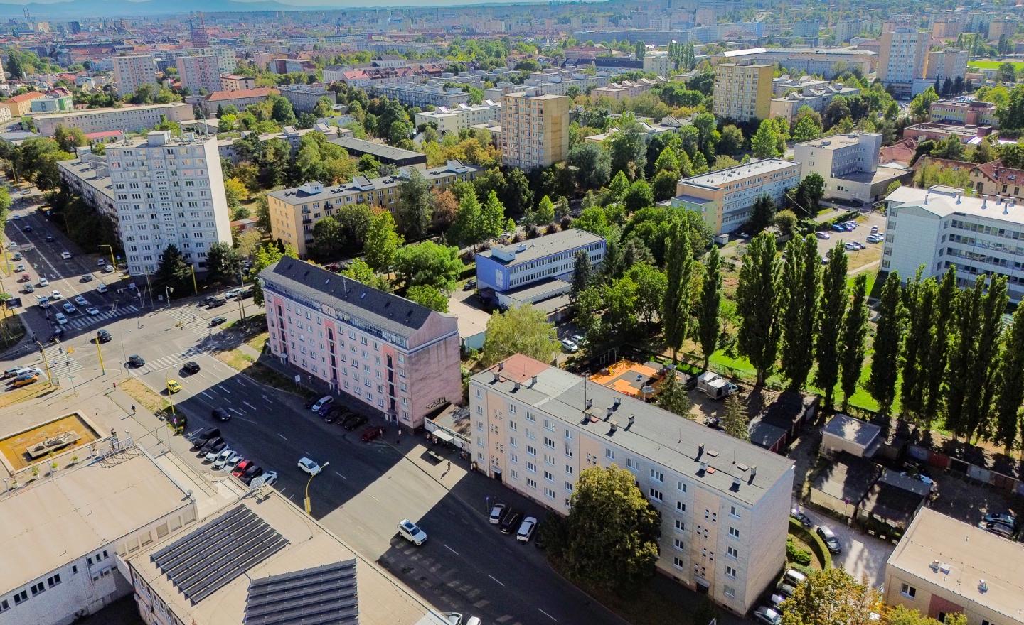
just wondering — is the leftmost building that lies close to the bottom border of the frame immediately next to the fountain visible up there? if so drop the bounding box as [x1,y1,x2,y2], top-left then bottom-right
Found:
[0,444,202,625]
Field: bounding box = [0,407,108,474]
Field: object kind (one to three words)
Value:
fountain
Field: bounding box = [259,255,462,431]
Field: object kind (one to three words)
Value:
building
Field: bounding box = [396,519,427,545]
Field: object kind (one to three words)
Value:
car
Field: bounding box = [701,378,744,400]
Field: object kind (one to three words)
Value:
vehicle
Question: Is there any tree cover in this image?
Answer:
Yes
